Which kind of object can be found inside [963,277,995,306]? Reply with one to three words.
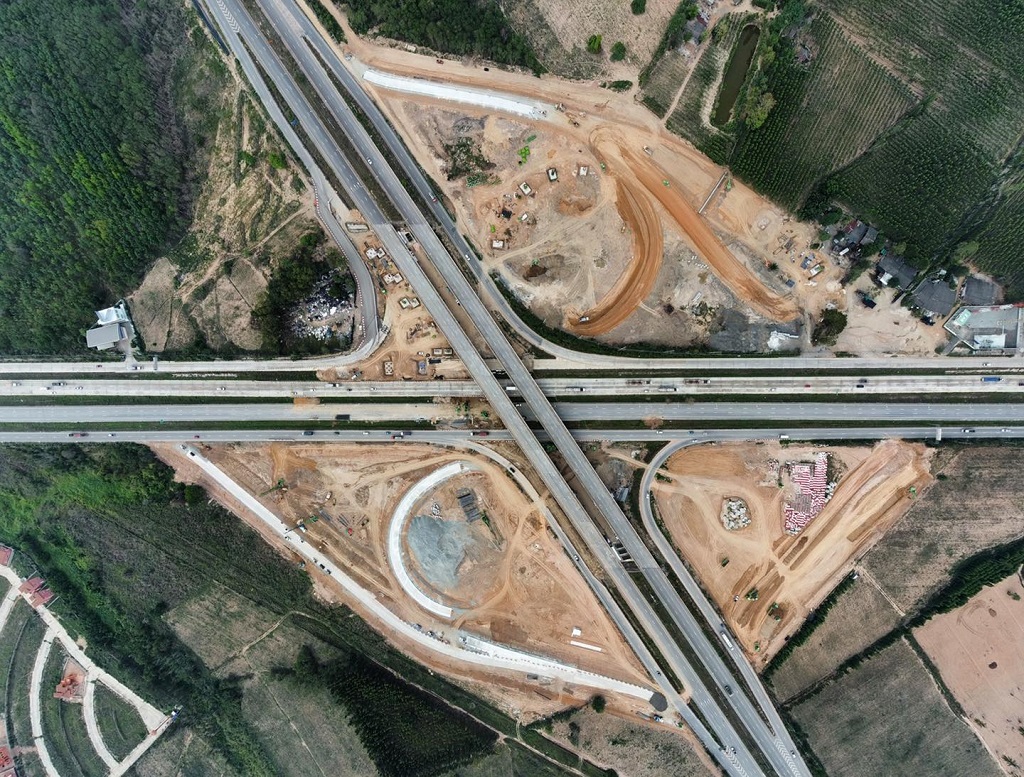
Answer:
house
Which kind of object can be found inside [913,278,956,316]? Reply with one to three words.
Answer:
house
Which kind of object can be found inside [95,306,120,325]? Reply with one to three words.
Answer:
building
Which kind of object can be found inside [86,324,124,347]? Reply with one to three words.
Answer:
building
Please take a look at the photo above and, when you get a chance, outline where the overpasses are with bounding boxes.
[365,216,620,573]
